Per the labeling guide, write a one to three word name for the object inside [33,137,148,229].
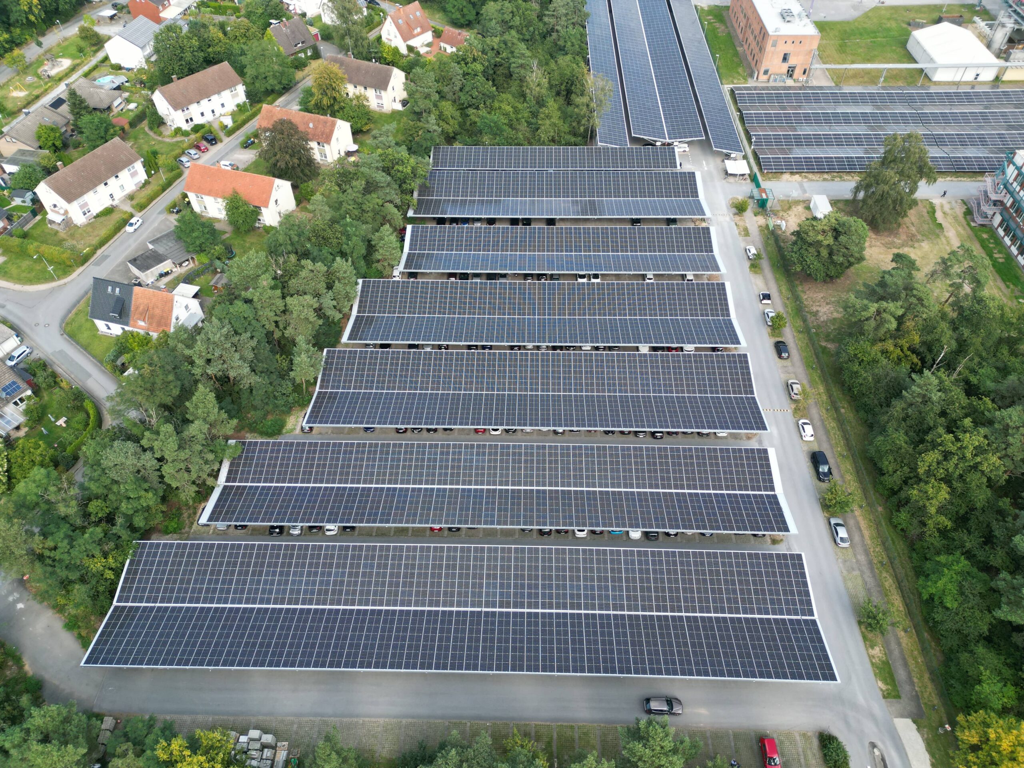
house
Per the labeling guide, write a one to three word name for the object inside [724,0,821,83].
building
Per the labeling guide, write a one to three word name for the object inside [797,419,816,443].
car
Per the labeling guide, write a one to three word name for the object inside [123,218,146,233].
car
